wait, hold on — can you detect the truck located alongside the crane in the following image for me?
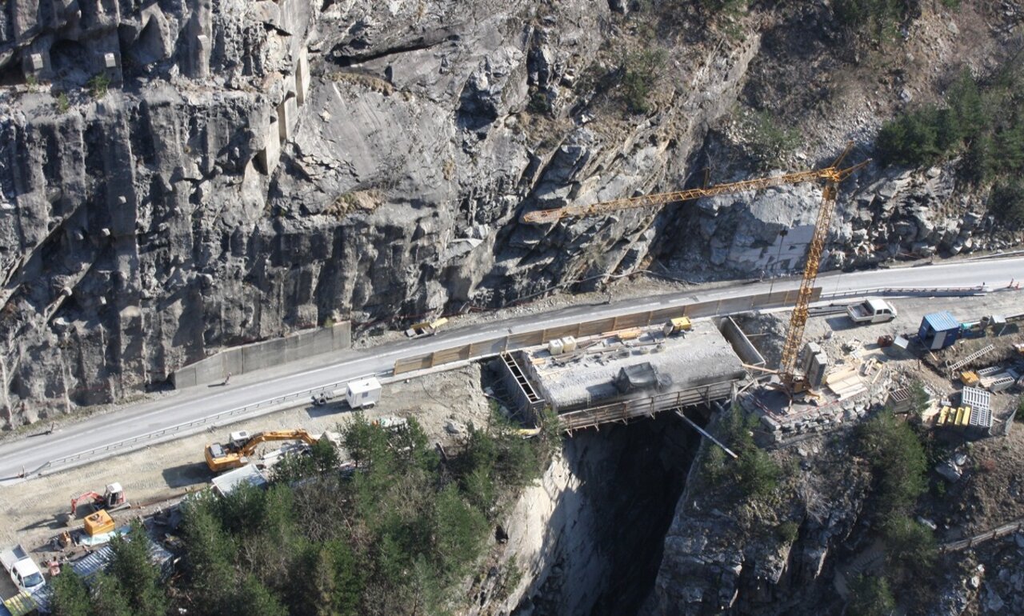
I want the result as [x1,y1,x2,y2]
[847,297,900,324]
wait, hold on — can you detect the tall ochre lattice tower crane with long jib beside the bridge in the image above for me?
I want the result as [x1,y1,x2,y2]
[523,143,873,413]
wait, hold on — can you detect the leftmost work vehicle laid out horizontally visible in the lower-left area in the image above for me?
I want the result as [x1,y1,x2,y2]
[64,488,126,526]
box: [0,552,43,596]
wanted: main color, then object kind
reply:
white truck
